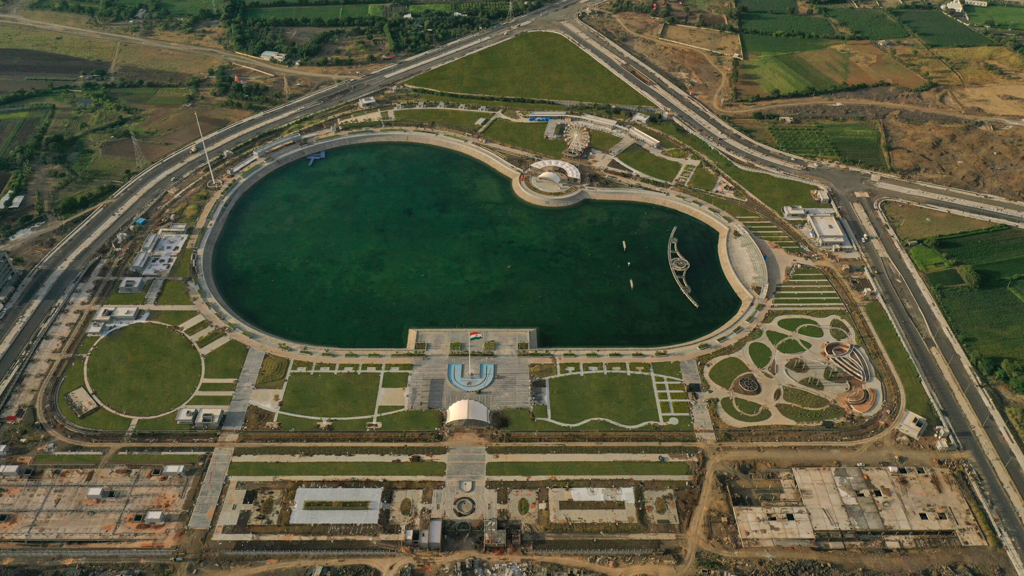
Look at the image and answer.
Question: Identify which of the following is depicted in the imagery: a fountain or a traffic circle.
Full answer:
Of the two, only a fountain appears.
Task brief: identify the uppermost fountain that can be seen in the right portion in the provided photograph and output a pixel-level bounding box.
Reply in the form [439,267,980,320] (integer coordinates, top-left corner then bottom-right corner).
[667,225,700,307]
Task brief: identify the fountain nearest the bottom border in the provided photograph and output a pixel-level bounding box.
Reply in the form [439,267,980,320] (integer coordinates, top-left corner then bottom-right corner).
[453,497,476,515]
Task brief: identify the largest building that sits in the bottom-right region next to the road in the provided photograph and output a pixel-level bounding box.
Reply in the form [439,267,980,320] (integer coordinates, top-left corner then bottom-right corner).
[727,467,989,551]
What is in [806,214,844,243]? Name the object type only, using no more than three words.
building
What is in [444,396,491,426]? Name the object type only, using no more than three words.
tent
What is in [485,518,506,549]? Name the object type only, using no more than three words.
building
